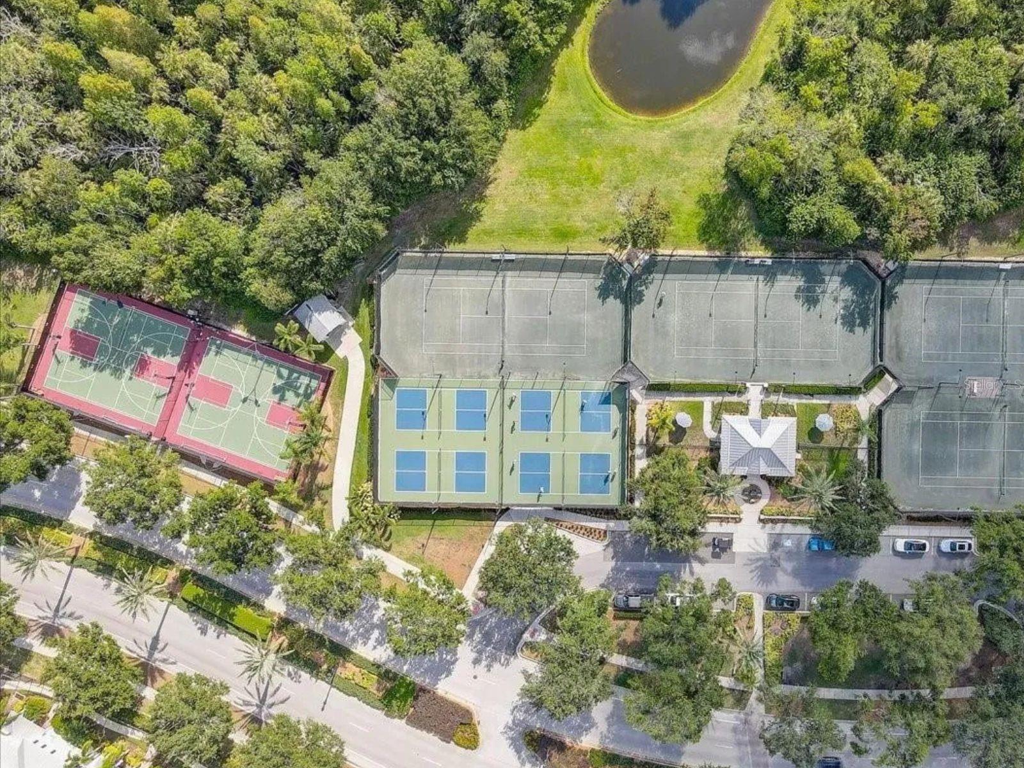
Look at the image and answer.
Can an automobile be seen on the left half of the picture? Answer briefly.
No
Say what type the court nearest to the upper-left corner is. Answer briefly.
basketball court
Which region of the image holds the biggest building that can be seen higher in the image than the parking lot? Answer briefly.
right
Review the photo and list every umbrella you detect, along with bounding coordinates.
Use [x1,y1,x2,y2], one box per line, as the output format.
[814,413,832,431]
[675,412,691,428]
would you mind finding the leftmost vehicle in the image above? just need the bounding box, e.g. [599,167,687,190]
[614,595,654,612]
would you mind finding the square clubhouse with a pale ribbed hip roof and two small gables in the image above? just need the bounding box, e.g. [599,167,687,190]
[717,415,797,477]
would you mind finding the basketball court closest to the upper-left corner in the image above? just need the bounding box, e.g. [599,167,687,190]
[29,286,204,443]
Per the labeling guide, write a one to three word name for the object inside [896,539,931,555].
car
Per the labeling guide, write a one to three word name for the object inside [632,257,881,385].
tennis court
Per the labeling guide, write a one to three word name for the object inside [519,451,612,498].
sports court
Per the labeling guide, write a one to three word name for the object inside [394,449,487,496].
sports court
